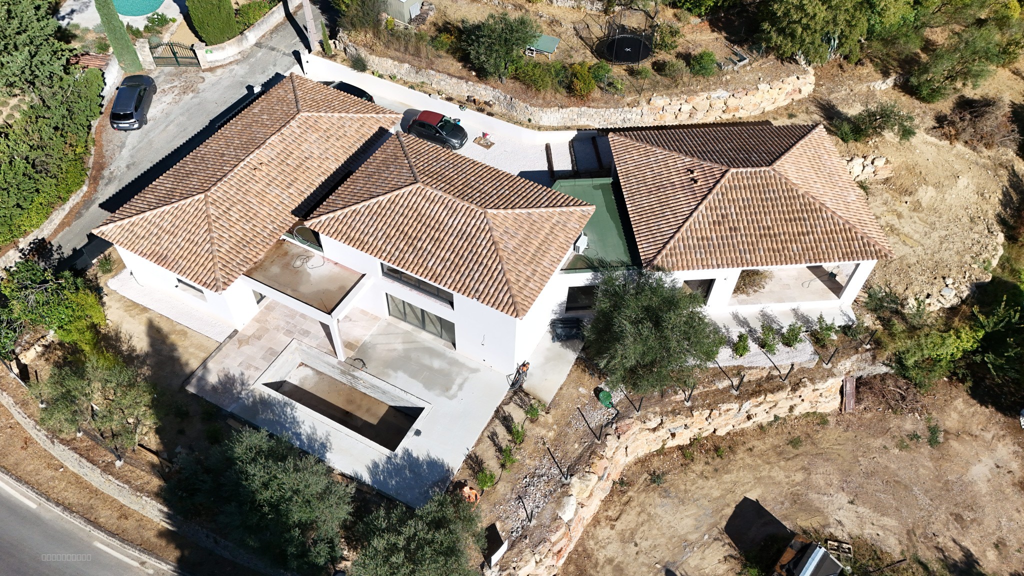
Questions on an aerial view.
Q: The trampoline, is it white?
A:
No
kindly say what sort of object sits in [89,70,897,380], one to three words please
house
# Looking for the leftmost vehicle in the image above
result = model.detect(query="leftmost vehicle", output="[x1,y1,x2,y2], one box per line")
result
[106,79,157,131]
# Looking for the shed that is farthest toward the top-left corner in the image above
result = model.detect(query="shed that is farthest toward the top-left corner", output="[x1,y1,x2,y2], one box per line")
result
[70,53,124,90]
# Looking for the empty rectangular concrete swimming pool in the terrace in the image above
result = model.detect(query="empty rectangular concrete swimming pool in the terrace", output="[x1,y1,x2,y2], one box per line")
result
[253,339,431,459]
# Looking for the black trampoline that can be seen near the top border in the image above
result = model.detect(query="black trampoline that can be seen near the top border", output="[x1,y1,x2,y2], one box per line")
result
[594,0,659,71]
